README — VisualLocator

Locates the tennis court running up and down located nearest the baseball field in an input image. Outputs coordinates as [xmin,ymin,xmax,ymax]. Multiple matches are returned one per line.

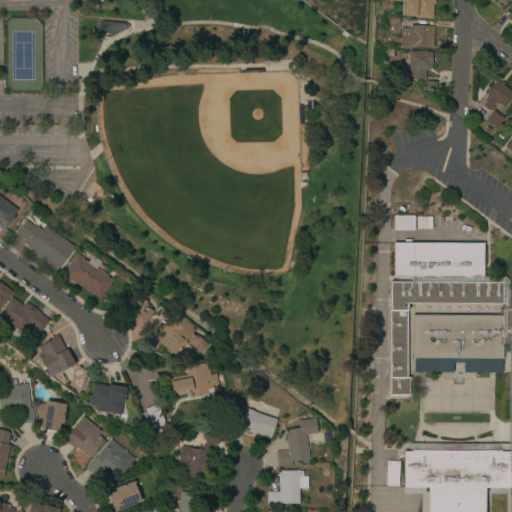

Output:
[8,19,43,90]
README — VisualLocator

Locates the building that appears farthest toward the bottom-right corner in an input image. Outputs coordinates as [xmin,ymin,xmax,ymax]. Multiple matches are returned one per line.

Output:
[406,450,512,512]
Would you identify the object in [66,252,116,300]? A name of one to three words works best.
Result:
house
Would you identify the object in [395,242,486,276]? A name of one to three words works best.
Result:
building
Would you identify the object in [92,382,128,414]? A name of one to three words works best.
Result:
house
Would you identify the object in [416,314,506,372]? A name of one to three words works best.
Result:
building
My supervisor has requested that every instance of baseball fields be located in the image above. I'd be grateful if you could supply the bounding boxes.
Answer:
[98,72,302,274]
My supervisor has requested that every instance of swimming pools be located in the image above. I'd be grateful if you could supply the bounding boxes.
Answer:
[36,386,54,401]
